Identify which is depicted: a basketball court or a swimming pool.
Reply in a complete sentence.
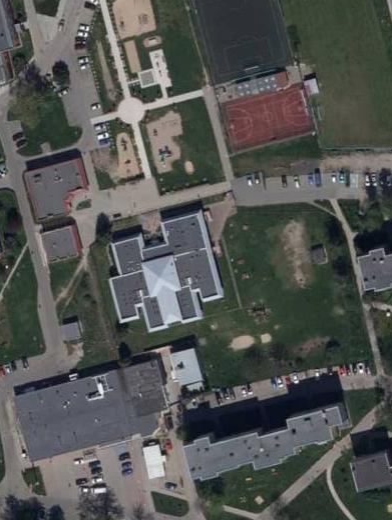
I can see a basketball court in this picture.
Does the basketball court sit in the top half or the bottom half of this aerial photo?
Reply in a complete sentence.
Seen from above, the basketball court lies in the top half of the view.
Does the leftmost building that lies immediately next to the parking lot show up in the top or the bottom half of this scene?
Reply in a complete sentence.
You can find the leftmost building that lies immediately next to the parking lot in the bottom half.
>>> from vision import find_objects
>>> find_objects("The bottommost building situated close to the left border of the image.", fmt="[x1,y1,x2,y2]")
[15,370,135,462]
